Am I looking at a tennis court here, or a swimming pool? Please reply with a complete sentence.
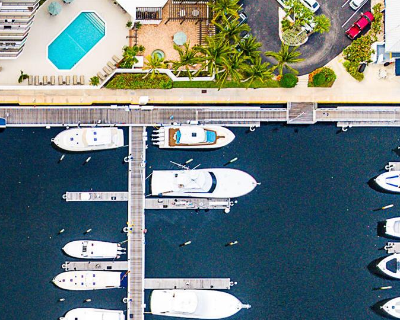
The one in the frame is a swimming pool.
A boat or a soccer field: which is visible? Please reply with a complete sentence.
Visible in the photo is a boat.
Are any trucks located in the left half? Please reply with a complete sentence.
No, I can find no truck in the left half.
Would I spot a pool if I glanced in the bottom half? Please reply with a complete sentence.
No, the scene shows no pool in the bottom half.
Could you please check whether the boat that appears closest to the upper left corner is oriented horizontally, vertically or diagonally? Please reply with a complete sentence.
In this picture, the boat that appears closest to the upper left corner lies horizontally.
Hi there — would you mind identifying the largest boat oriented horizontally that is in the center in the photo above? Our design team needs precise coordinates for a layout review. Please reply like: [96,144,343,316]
[145,154,262,206]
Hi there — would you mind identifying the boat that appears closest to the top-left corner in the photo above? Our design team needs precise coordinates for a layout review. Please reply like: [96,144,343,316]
[50,127,129,149]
